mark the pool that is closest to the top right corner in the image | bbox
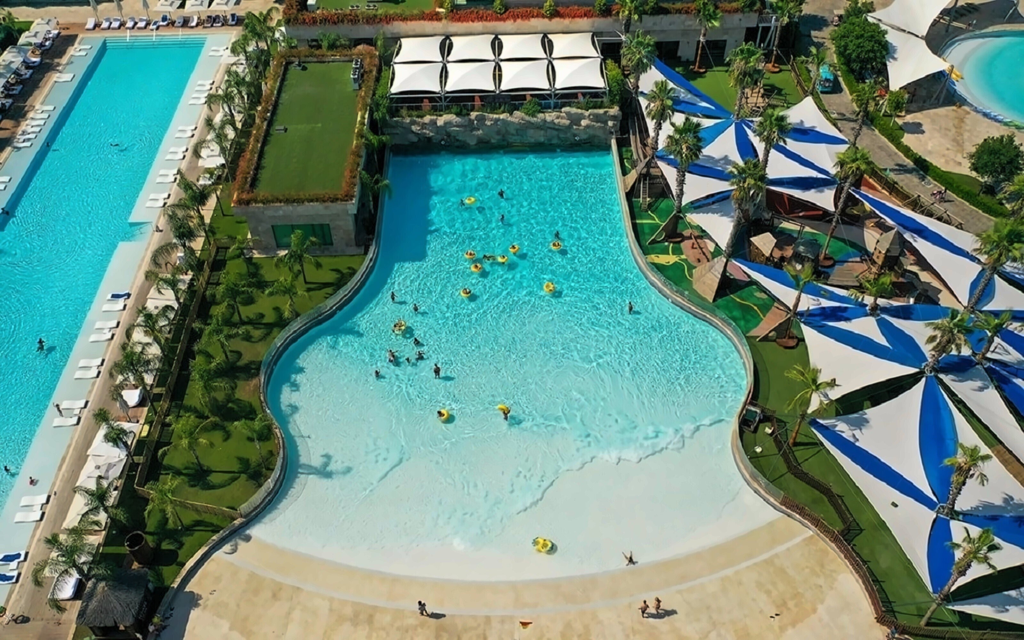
[939,24,1024,132]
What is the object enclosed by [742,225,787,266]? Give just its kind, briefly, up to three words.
shed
